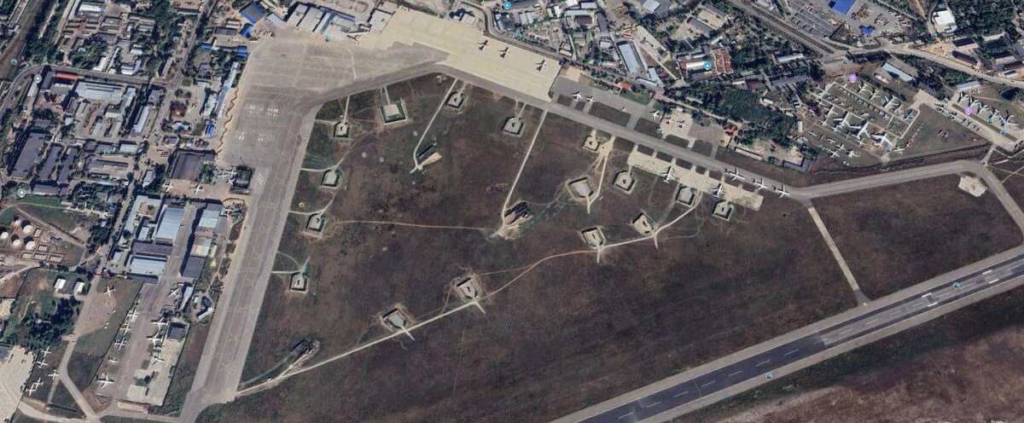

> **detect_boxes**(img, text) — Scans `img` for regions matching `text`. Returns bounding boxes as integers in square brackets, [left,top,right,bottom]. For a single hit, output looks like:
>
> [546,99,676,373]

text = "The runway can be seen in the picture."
[550,245,1024,423]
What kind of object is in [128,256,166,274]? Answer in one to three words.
hangar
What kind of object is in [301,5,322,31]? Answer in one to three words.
hangar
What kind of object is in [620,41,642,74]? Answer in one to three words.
building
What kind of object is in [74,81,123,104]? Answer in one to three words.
building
